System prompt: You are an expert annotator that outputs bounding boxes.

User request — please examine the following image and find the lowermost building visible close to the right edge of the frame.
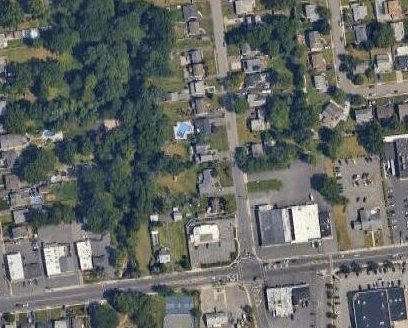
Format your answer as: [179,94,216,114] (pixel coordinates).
[355,286,407,328]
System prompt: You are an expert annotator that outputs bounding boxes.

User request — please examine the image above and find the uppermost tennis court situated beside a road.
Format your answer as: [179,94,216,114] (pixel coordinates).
[166,295,195,314]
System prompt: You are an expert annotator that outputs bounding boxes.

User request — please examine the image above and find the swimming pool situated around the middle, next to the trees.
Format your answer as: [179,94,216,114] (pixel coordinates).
[176,121,194,140]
